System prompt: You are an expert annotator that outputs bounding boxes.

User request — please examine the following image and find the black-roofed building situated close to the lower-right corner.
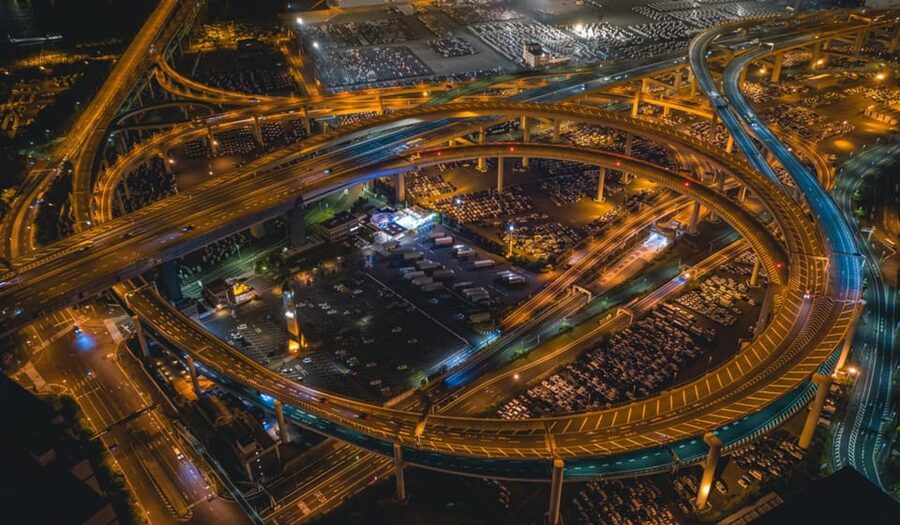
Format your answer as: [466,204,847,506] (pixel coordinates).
[765,467,900,525]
